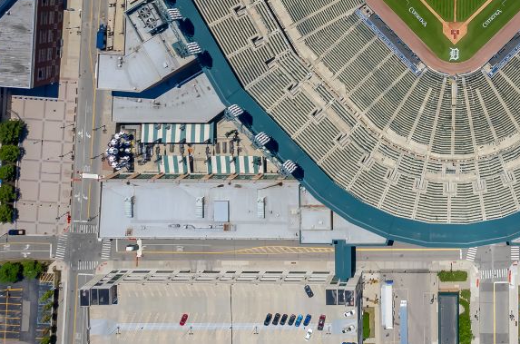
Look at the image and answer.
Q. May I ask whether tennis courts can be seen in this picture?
No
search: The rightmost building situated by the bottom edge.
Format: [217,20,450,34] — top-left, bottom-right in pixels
[439,285,459,344]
